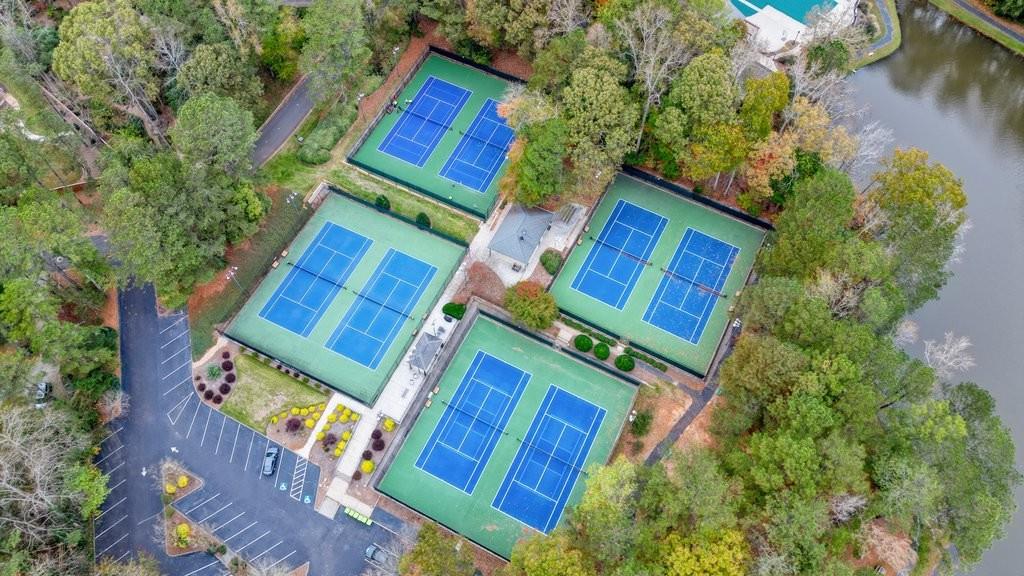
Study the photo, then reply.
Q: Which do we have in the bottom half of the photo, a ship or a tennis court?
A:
tennis court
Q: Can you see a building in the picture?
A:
Yes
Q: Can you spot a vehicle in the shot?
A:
Yes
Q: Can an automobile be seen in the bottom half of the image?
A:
Yes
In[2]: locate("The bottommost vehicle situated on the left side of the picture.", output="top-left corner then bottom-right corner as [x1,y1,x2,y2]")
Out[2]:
[366,545,395,568]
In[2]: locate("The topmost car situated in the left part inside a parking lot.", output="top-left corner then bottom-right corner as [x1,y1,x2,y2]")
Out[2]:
[262,447,278,474]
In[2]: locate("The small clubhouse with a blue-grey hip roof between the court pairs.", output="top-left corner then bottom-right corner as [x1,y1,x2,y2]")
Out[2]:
[488,202,553,265]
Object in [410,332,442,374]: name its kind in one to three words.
gazebo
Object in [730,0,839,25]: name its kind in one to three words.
swimming pool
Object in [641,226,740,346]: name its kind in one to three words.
tennis court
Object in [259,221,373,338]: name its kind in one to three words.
tennis court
